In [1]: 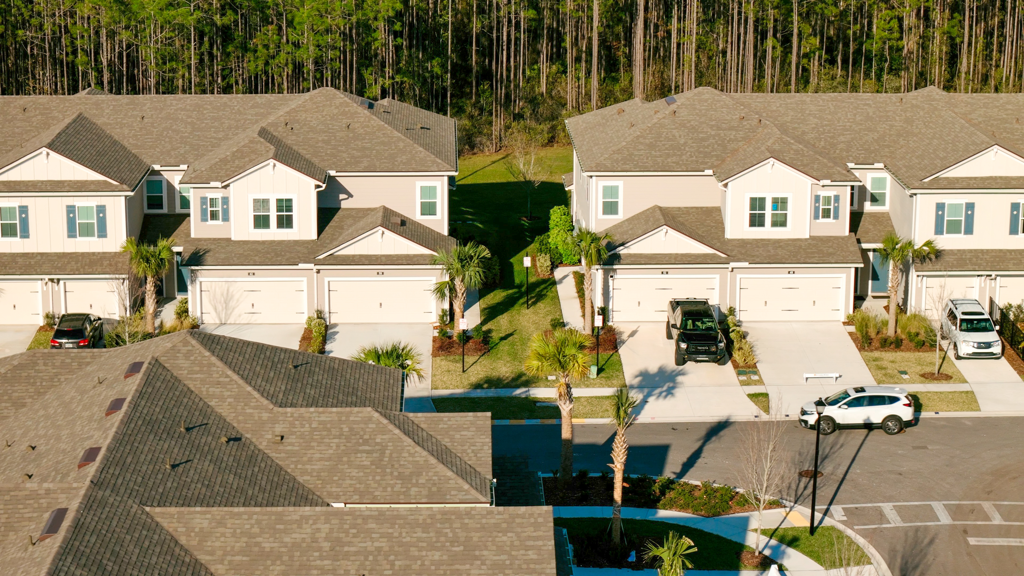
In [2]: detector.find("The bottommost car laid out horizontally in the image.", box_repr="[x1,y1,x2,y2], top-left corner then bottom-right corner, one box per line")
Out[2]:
[798,383,920,435]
